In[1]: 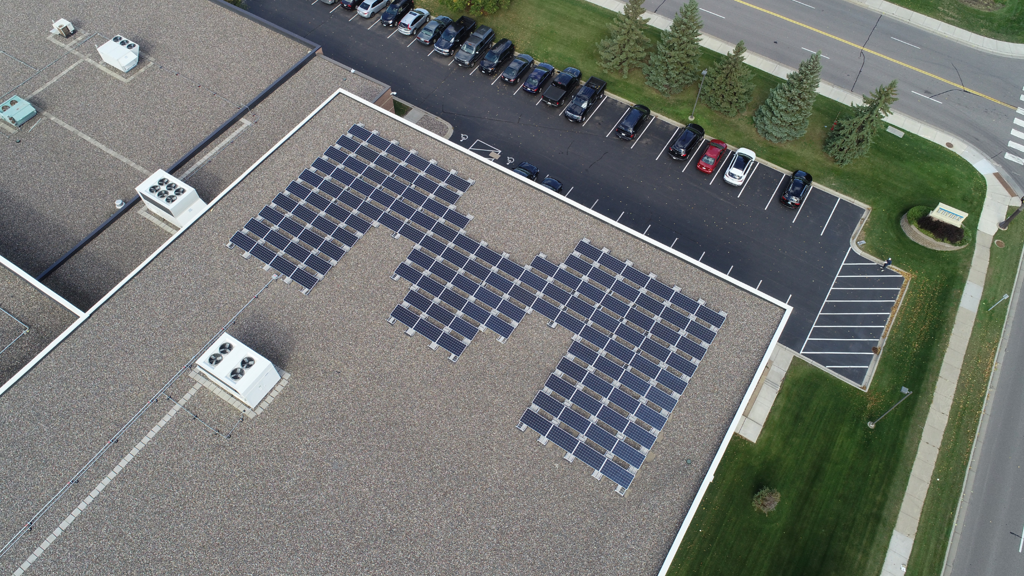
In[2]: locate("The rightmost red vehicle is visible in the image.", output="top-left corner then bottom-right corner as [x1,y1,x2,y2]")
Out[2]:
[694,136,728,172]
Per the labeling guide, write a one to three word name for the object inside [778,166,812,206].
car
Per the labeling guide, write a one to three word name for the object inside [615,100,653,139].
vehicle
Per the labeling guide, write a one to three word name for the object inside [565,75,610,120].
truck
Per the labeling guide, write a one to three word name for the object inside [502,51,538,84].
car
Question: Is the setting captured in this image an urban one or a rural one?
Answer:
urban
